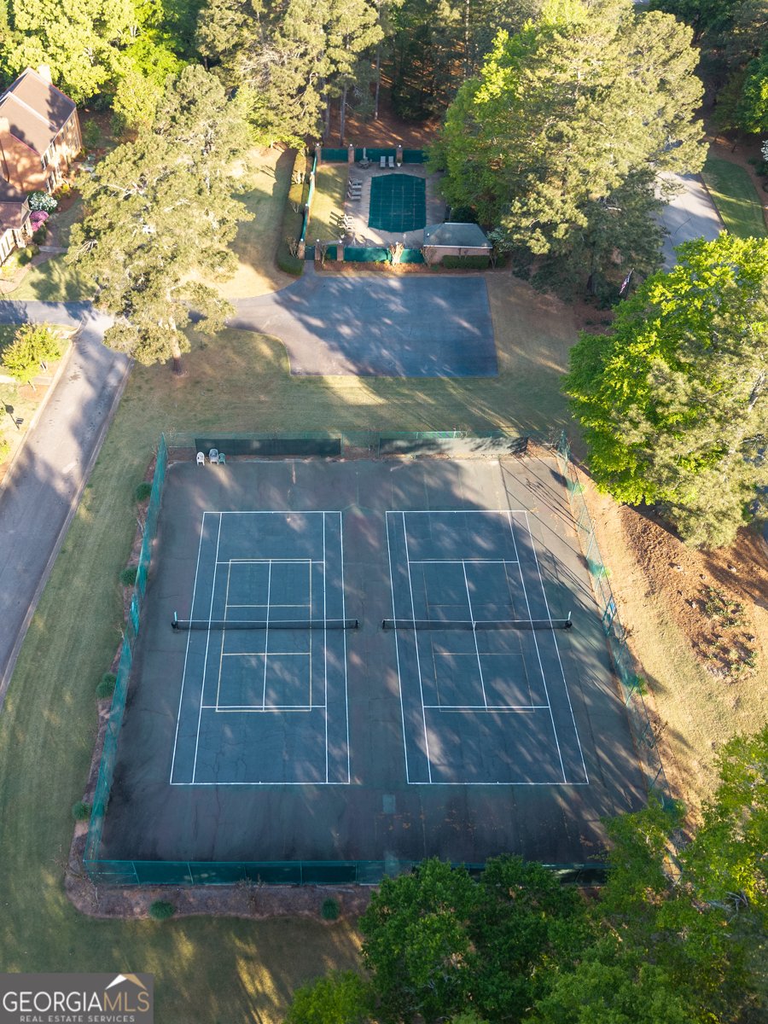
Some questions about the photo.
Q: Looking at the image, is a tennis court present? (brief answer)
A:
Yes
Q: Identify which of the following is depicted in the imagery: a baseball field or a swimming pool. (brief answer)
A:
swimming pool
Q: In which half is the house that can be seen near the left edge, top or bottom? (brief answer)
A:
top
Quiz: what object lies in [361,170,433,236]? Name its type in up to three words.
swimming pool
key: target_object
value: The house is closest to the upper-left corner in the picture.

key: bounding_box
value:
[0,56,82,198]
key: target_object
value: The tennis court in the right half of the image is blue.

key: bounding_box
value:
[387,511,588,783]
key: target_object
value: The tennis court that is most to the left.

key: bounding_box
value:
[170,511,350,783]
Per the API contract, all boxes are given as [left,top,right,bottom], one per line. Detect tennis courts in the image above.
[387,511,588,783]
[170,511,350,783]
